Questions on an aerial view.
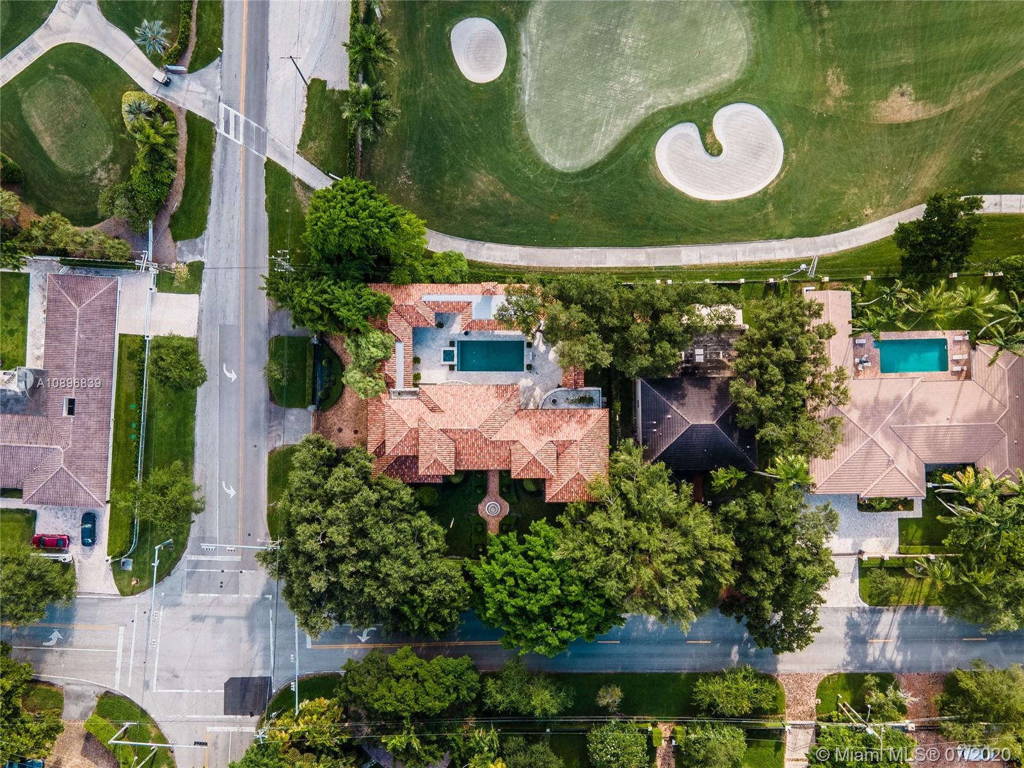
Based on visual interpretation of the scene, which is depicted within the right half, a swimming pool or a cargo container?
swimming pool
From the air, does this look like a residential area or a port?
residential area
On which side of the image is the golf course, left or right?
right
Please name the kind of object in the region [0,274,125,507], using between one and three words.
house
